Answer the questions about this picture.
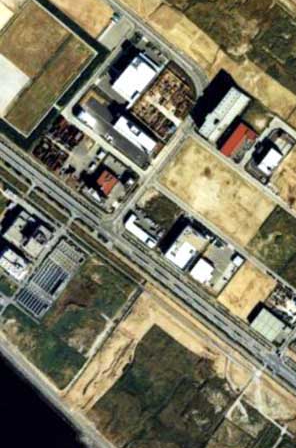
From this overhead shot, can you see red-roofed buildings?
Yes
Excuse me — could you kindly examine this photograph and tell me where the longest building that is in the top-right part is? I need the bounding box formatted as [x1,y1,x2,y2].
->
[199,86,249,142]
